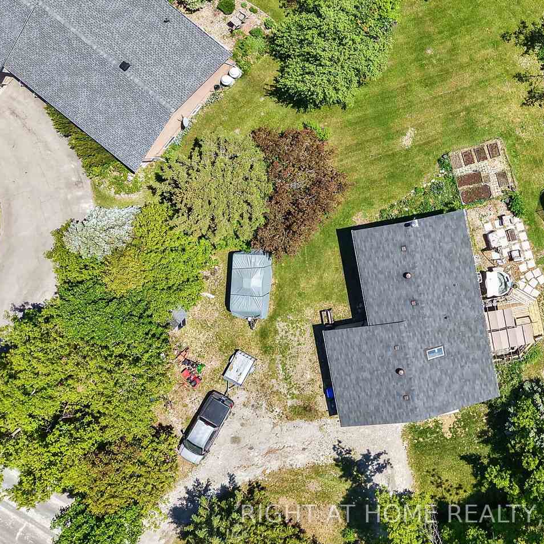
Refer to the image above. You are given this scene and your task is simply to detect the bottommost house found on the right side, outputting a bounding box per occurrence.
[324,208,499,426]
